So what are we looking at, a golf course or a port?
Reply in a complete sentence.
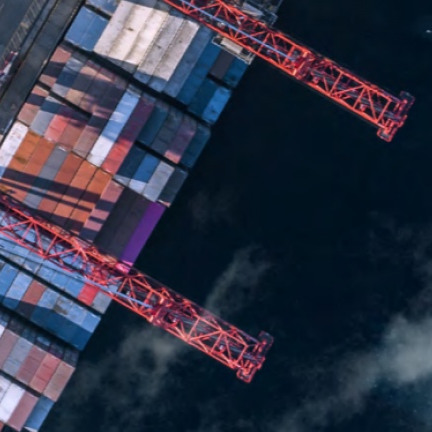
It's a port.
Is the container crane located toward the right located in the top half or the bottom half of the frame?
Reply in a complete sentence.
You can find the container crane located toward the right in the top half.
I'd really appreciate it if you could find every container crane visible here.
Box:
[156,0,408,139]
[0,179,274,377]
